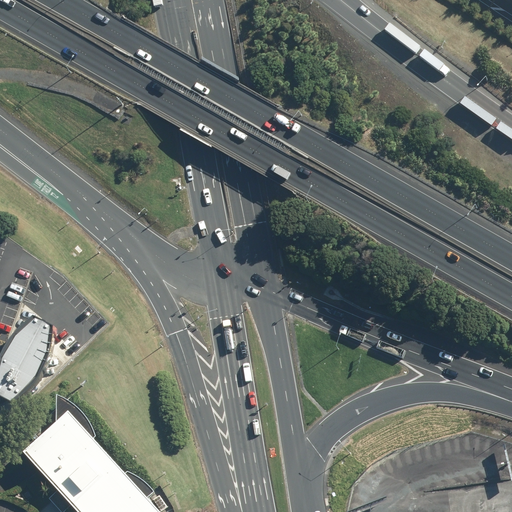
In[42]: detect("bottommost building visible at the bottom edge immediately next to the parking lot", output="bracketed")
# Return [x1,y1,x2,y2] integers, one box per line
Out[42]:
[24,394,159,512]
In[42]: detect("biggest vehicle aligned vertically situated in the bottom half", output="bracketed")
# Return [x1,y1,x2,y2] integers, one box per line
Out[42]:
[222,320,235,354]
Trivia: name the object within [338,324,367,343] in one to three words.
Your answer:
vehicle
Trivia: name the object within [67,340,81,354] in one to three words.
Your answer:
vehicle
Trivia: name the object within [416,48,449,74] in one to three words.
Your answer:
truck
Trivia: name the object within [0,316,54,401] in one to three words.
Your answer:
building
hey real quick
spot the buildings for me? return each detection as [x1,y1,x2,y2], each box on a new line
[24,394,159,512]
[0,316,54,401]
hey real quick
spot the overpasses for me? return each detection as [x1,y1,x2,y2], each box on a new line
[138,26,292,191]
